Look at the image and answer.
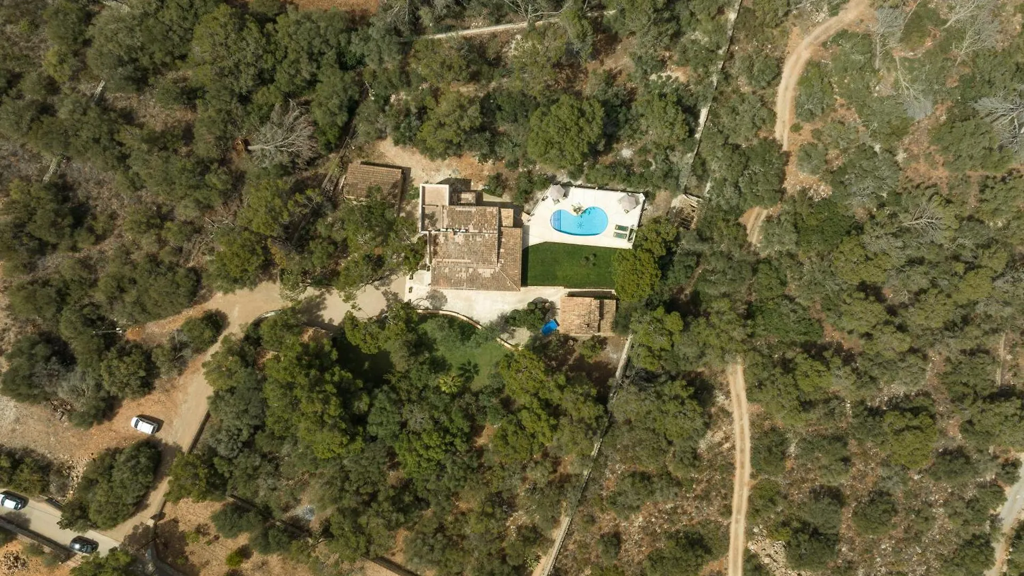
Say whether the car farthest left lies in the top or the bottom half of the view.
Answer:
bottom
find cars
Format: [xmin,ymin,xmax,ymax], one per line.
[70,534,100,553]
[0,491,26,511]
[130,415,160,435]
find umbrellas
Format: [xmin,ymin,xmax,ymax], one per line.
[619,193,638,211]
[548,183,565,201]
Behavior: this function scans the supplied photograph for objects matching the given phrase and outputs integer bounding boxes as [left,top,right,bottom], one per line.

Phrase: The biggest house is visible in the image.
[420,184,523,292]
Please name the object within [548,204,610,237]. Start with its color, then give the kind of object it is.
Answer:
blue swimming pool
